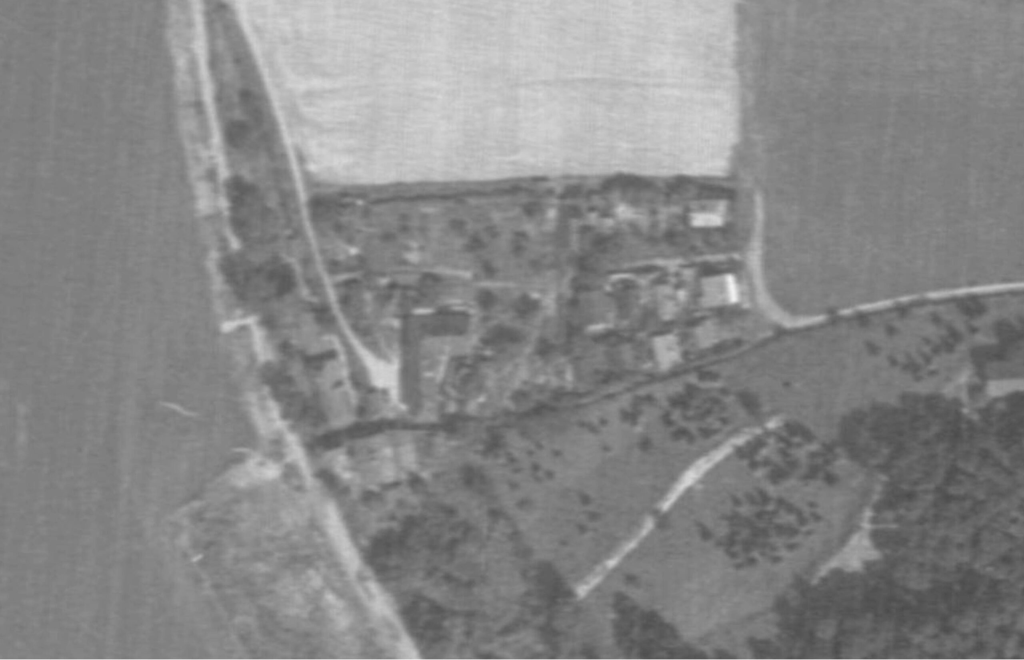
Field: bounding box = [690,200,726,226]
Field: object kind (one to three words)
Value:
house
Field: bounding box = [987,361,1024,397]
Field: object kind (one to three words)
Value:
barn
